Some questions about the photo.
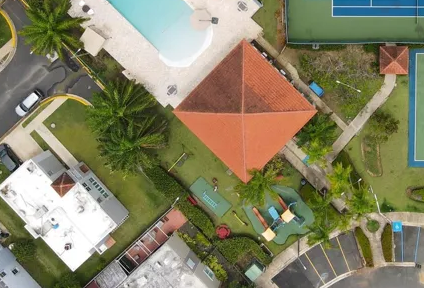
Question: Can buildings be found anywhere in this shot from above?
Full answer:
Yes, you can see a building in this photo.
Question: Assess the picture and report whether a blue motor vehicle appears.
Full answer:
No, I can't see a single blue motor vehicle in this photo.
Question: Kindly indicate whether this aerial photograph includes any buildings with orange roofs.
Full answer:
Yes, you can see a building with an orange roof in this photo.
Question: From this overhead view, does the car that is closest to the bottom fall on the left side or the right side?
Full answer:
It is on the left.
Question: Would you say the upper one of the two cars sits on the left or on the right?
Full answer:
It is on the left.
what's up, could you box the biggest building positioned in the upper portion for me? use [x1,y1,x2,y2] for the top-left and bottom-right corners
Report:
[173,39,316,181]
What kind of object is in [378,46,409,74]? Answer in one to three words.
gazebo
